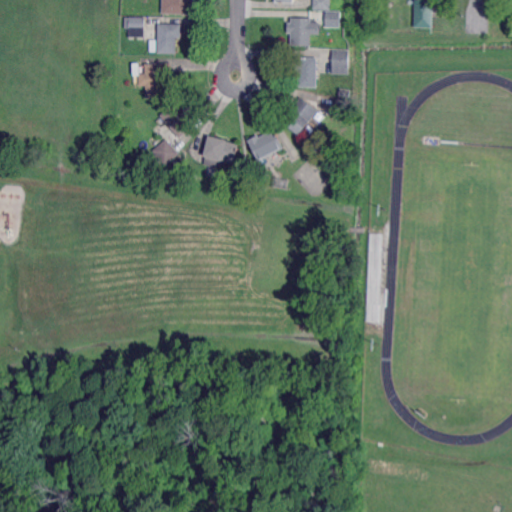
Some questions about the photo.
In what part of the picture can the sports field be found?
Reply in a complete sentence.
You can find the sports field in the right area of the picture.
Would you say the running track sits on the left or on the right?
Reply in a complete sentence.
The running track appears in the right half of the scene.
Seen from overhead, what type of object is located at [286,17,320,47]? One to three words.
house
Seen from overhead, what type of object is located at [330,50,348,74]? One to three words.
building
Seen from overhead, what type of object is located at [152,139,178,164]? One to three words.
house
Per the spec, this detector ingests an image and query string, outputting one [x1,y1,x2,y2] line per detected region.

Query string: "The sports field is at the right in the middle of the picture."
[392,82,512,434]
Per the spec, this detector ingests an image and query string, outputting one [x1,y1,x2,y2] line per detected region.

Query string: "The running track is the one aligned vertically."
[381,72,512,446]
